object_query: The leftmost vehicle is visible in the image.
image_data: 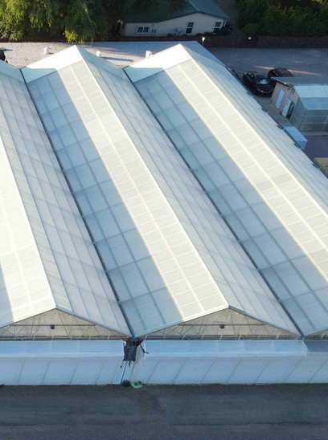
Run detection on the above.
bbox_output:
[245,68,271,97]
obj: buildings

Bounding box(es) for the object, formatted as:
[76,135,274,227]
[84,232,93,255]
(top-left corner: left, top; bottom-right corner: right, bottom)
[267,78,328,131]
[0,45,328,386]
[101,0,239,35]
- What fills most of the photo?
buildings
